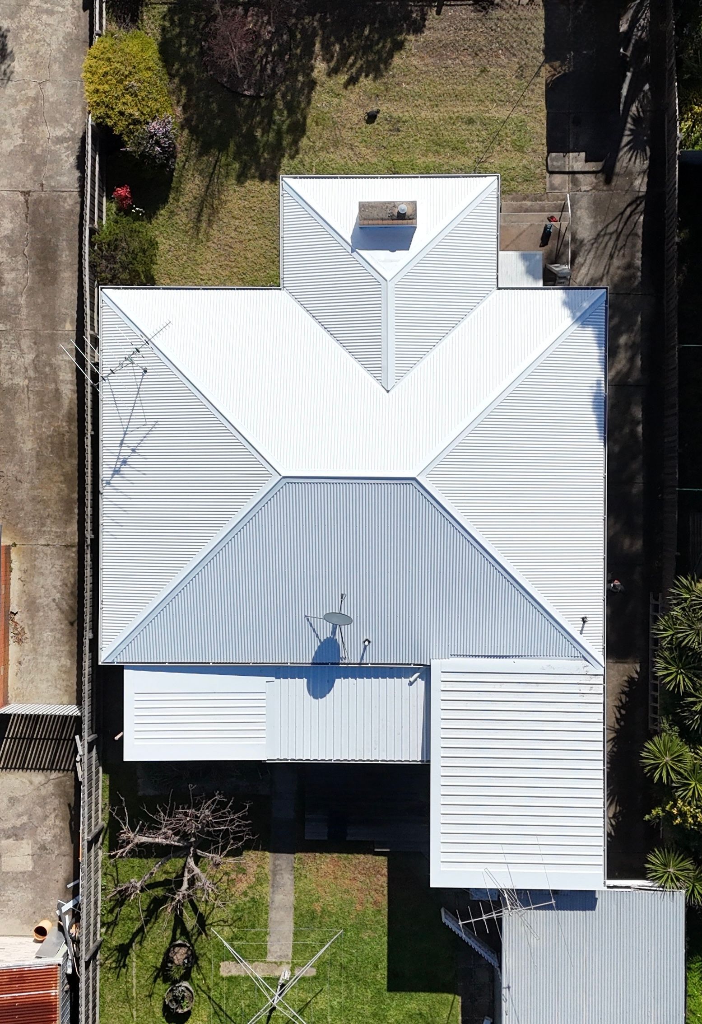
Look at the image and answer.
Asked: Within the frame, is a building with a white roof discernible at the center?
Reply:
Yes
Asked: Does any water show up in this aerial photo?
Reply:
No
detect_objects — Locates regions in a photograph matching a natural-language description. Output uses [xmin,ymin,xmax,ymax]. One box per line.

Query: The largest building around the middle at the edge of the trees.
[97,172,610,888]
